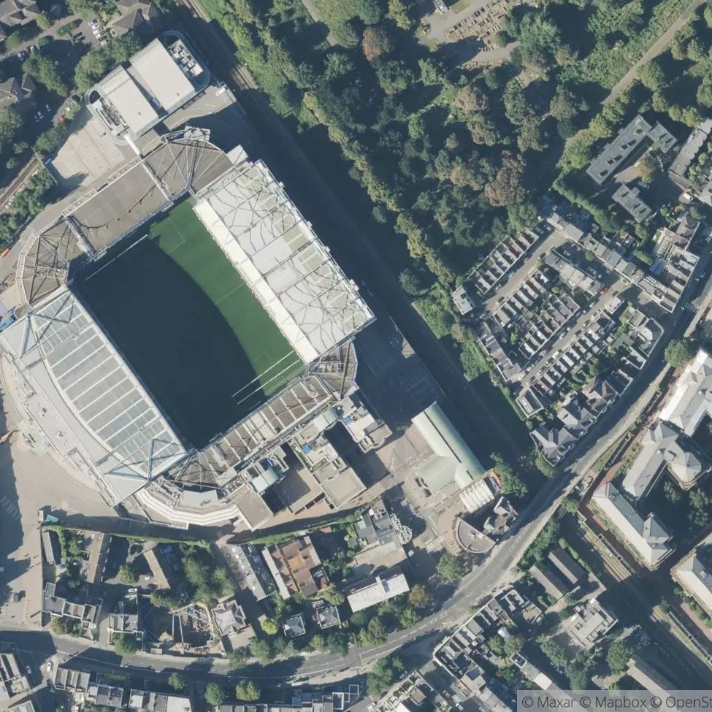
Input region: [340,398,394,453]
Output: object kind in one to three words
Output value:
building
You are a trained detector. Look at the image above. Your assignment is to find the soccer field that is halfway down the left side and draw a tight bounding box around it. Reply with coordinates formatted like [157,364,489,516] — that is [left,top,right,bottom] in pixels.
[68,197,309,455]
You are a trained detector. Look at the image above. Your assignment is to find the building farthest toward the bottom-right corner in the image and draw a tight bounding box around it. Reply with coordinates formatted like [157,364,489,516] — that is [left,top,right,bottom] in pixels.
[625,653,706,712]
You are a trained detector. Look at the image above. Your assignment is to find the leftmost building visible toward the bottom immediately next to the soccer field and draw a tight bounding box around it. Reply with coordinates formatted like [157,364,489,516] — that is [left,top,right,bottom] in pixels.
[131,479,240,531]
